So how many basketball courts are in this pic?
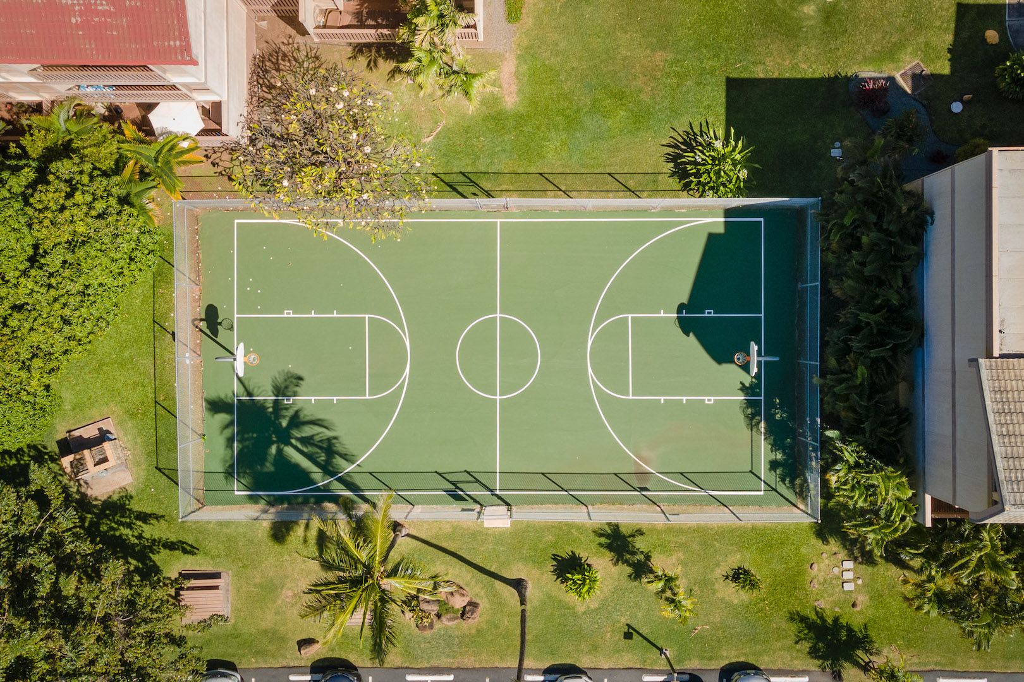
one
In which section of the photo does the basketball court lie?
center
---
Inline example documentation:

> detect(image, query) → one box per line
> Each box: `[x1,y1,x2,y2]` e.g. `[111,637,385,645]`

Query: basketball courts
[202,210,796,506]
